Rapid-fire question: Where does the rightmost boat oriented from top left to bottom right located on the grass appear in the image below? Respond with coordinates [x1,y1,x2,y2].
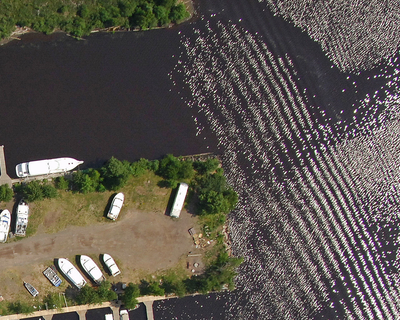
[104,254,122,276]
